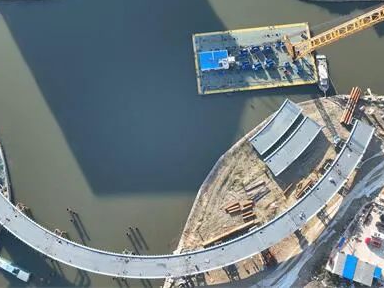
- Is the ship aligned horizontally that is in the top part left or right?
right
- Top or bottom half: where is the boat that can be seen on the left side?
bottom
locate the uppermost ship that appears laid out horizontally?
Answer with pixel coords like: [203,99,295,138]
[191,5,384,95]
